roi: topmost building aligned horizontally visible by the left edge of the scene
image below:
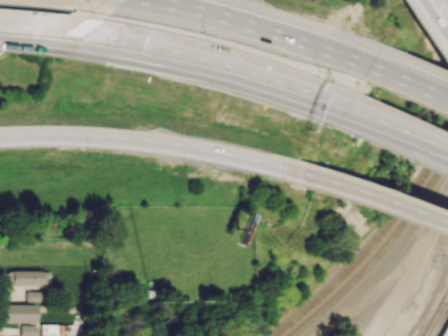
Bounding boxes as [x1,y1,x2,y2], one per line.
[10,271,51,290]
